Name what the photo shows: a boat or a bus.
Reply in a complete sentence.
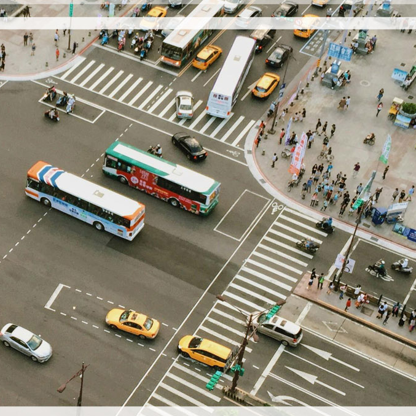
The one in the frame is a bus.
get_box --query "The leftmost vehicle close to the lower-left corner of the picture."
[0,325,54,364]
